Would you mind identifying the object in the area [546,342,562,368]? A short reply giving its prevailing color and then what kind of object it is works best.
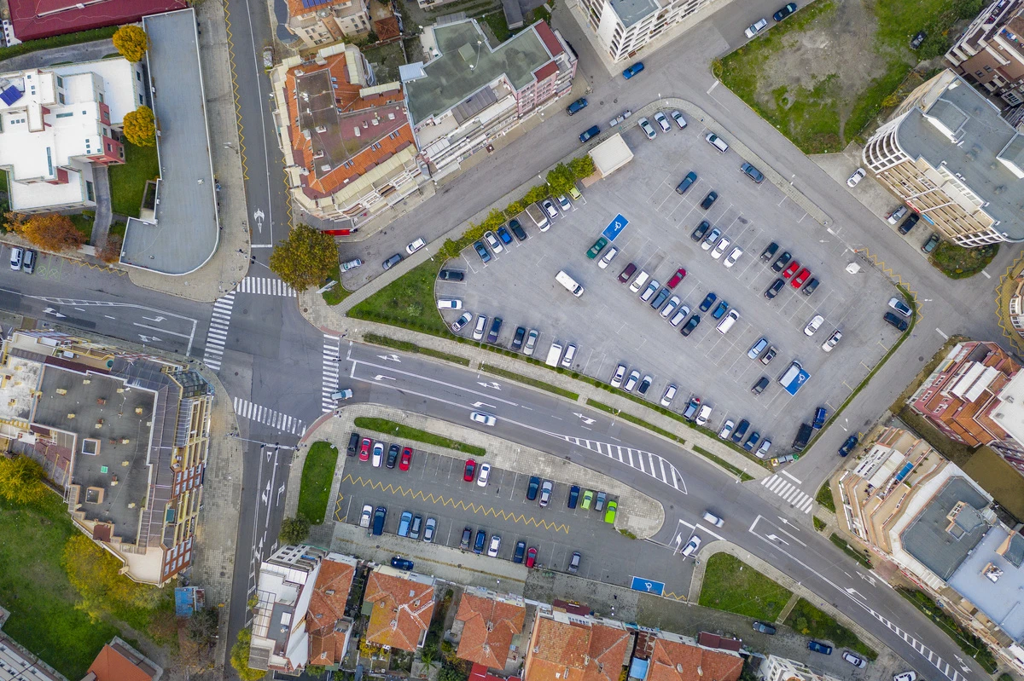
white vehicle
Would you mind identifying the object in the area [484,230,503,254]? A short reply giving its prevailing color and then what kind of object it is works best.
white car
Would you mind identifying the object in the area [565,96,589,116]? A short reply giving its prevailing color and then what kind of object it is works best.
blue car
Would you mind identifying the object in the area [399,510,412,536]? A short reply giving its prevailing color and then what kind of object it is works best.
blue vehicle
